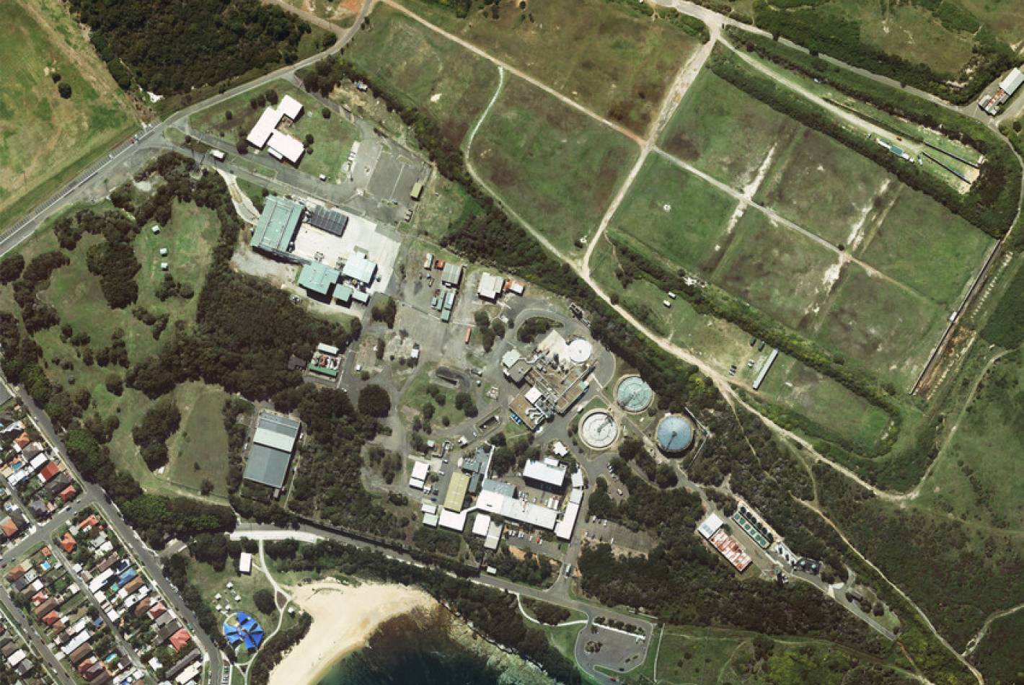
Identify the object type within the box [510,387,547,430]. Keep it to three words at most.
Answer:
building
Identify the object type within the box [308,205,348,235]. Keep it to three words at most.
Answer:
shed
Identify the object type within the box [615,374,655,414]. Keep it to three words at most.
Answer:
storage tank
